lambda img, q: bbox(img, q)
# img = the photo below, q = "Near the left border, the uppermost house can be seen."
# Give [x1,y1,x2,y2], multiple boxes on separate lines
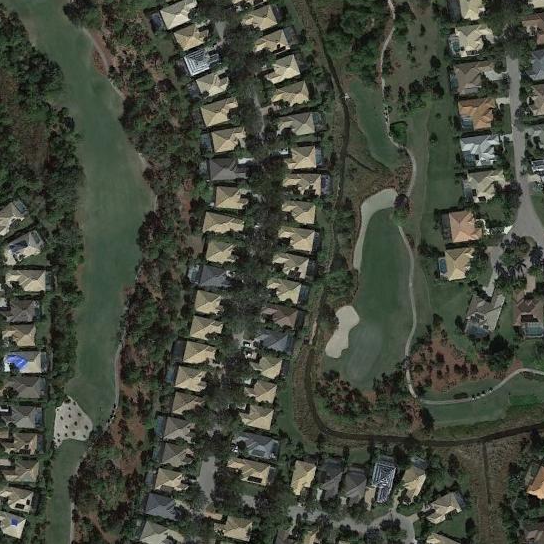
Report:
[0,199,28,235]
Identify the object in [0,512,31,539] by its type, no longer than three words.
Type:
house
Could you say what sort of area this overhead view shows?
residential area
